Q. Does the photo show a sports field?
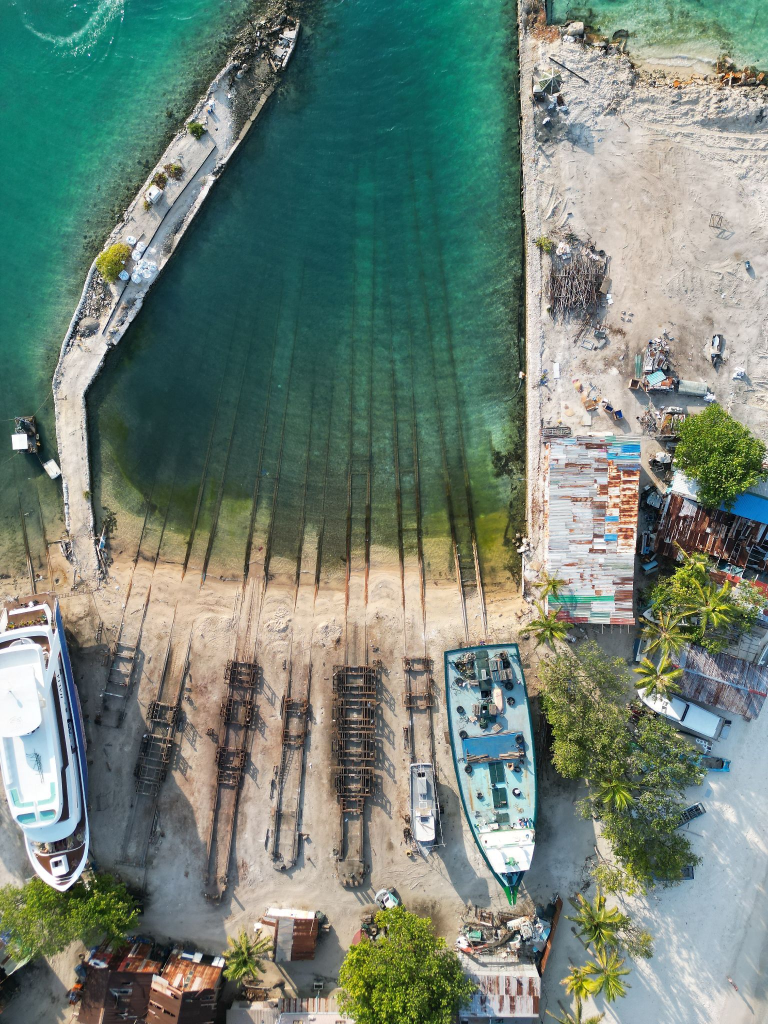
No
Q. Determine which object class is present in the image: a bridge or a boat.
boat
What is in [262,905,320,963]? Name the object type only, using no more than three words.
shed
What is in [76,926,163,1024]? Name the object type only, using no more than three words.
house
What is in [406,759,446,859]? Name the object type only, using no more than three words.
boat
